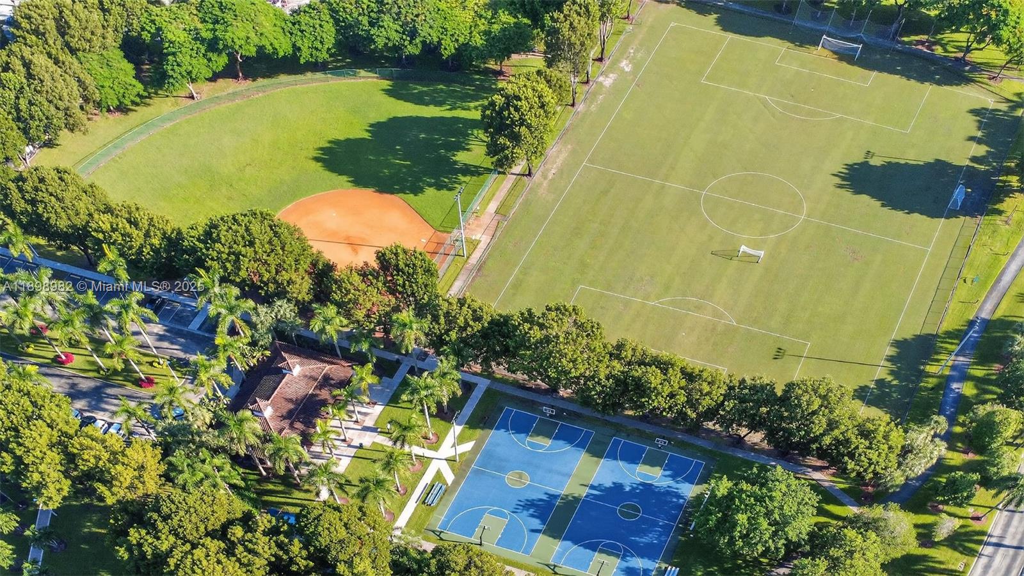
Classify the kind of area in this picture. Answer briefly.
sports ground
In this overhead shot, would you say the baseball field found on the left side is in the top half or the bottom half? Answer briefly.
top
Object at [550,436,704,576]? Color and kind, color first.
blue basketball court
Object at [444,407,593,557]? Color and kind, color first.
blue basketball court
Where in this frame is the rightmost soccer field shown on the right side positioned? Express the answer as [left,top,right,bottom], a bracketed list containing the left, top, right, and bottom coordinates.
[461,0,1024,478]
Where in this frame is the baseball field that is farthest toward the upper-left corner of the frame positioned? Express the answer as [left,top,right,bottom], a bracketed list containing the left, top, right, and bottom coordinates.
[75,76,515,299]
